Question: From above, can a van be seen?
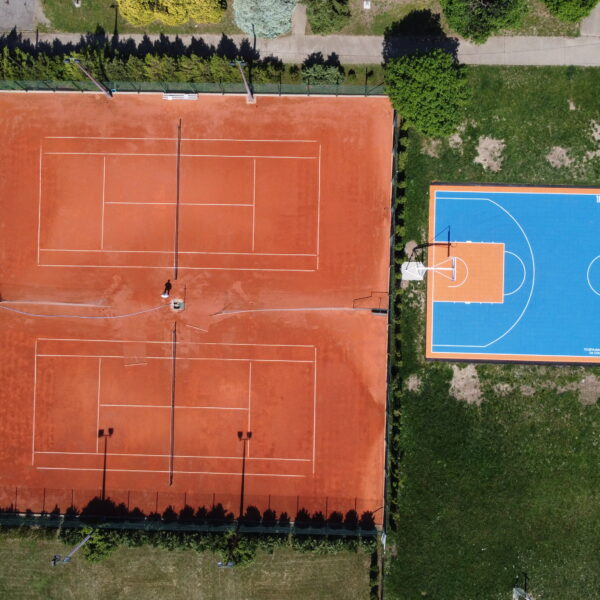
No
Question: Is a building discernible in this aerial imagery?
No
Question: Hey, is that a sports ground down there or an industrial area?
sports ground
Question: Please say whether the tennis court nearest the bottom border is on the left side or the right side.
left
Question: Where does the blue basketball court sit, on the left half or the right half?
right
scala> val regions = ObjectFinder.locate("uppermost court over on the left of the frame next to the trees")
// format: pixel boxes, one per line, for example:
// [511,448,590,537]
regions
[0,91,392,310]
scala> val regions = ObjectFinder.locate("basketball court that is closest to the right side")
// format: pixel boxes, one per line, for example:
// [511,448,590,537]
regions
[427,183,600,366]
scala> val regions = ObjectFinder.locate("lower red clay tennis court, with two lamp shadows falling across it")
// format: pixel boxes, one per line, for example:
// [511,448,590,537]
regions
[0,301,388,525]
